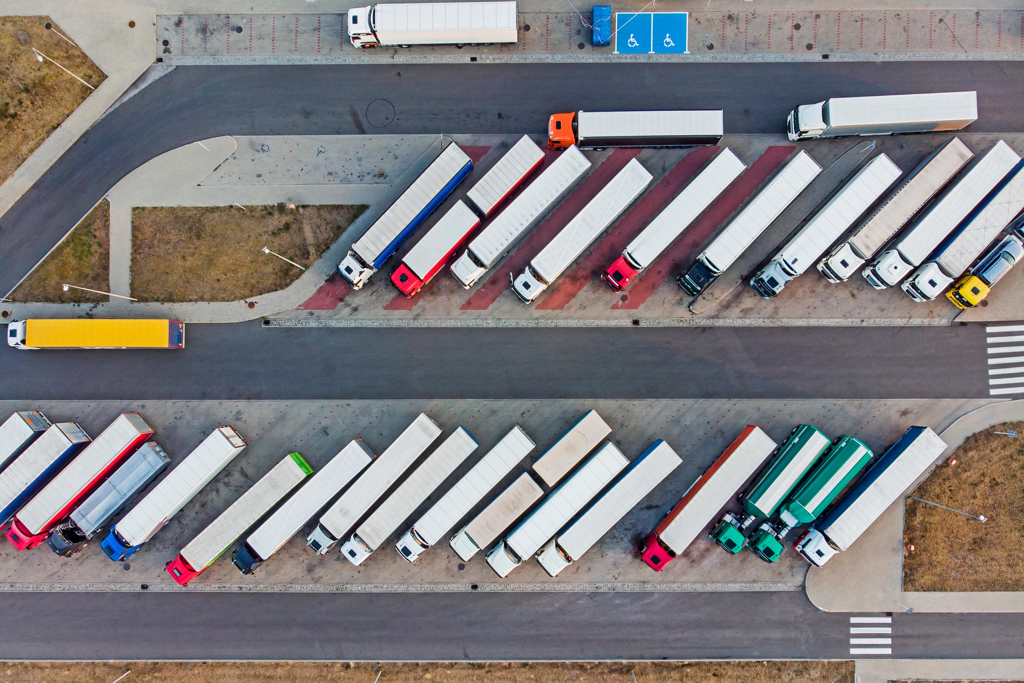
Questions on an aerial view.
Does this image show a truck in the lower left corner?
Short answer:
Yes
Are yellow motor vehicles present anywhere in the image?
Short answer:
Yes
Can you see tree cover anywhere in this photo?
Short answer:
No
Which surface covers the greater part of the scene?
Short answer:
paved ground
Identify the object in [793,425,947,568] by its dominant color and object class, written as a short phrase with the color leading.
white truck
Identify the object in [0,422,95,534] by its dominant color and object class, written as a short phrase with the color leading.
white truck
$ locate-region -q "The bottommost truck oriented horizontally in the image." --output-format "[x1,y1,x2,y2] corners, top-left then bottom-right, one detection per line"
[7,319,187,350]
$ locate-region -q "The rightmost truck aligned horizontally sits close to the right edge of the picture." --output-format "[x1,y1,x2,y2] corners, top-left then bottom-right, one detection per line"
[786,92,978,139]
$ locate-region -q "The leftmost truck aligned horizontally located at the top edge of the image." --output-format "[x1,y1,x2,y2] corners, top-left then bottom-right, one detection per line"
[348,2,519,48]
